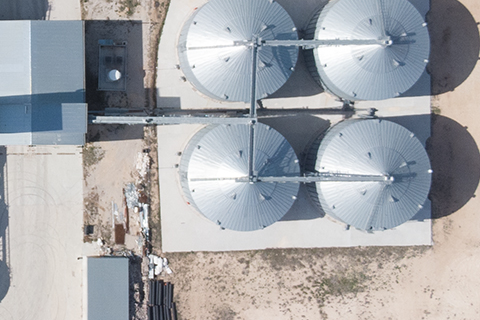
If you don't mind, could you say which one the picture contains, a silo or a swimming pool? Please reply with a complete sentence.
I can see a silo in this picture.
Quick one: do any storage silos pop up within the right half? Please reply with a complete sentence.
Yes, there is a storage silo within the right half.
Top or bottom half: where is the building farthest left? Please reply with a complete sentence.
The building farthest left is in the top half of the image.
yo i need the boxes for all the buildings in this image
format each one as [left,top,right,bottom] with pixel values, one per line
[0,19,87,146]
[80,254,129,320]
